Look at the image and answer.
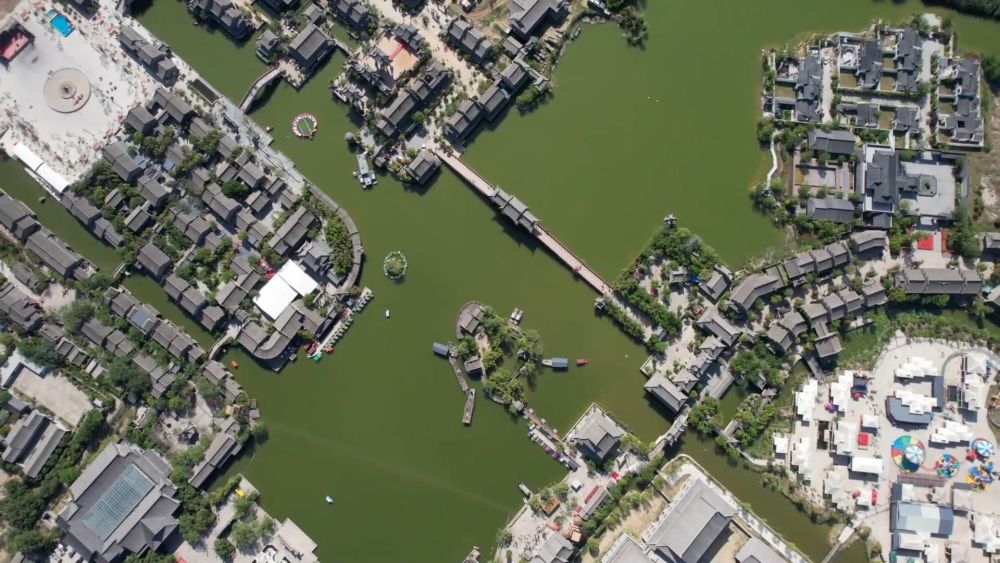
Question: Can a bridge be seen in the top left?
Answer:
Yes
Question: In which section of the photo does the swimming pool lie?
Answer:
top left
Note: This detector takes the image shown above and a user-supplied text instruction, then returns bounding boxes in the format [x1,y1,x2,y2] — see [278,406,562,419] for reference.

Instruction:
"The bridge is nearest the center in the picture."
[438,147,609,293]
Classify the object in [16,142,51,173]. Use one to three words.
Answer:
tent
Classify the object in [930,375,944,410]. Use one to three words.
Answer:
building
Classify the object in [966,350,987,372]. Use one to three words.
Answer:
tent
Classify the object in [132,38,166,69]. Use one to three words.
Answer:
house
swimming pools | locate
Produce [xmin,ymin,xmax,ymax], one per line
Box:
[48,12,76,38]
